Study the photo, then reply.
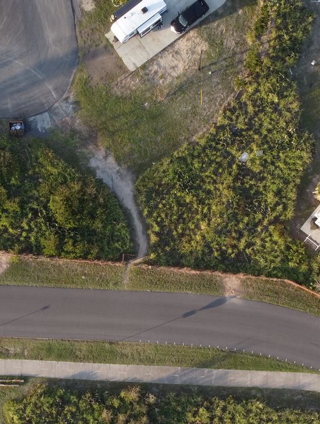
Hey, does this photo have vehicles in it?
Yes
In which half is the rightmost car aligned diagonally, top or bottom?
top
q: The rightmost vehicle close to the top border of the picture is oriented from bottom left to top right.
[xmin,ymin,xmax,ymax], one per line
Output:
[171,0,207,32]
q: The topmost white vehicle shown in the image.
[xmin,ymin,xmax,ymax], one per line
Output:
[110,0,167,50]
